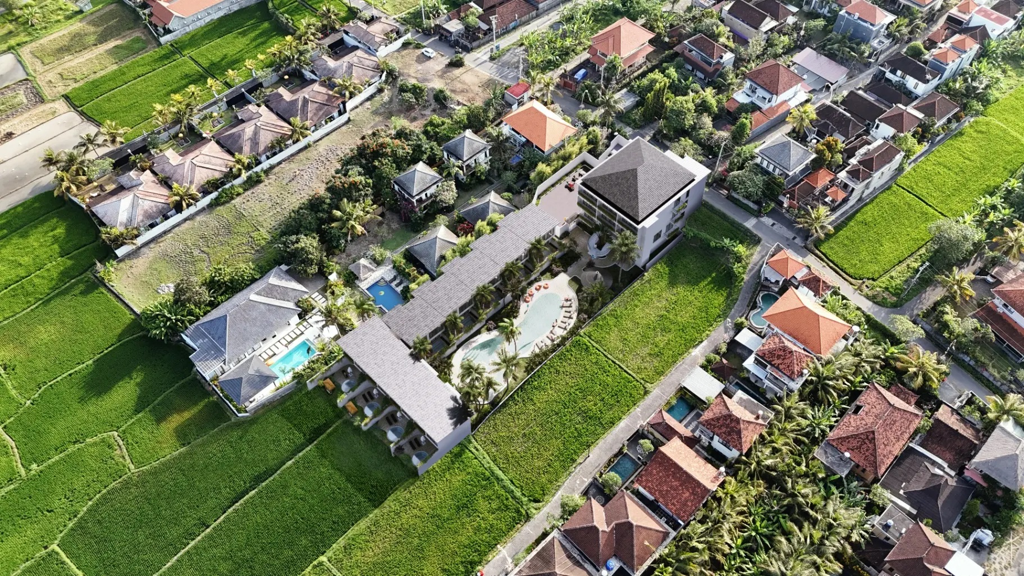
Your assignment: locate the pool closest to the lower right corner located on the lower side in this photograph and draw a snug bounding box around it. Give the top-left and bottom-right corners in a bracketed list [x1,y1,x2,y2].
[730,378,769,404]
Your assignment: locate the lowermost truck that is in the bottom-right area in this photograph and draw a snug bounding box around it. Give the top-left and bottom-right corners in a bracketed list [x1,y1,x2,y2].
[971,524,1000,553]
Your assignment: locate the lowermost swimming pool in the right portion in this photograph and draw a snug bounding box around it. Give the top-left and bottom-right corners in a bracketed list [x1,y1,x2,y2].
[611,450,644,478]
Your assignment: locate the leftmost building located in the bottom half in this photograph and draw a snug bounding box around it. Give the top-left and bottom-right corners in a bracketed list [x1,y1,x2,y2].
[216,353,277,407]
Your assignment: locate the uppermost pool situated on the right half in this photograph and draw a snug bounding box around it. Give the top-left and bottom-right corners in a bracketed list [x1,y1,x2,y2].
[749,290,781,331]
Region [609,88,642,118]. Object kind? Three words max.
building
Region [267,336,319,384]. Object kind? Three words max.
swimming pool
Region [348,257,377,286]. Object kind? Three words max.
gazebo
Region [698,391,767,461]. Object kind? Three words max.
house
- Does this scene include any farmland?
Yes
